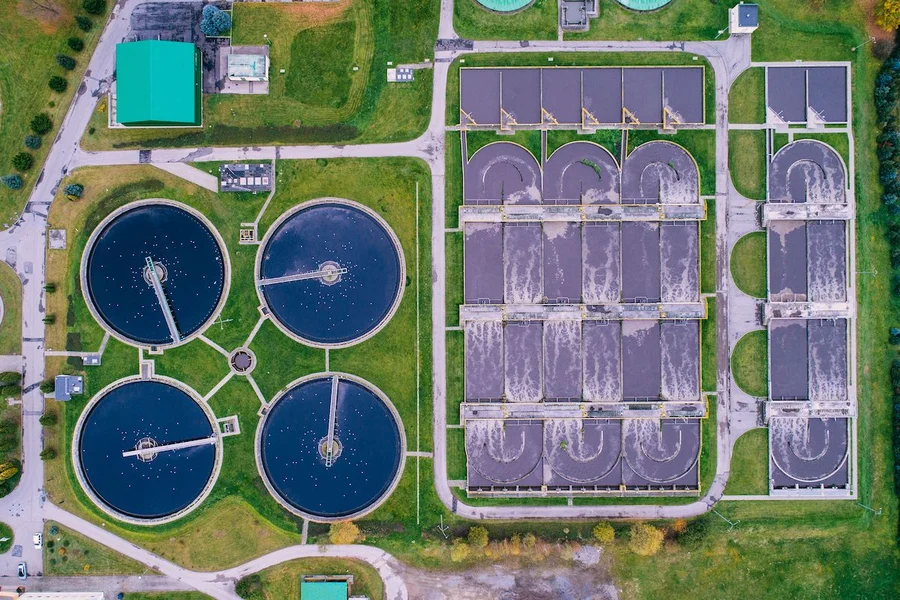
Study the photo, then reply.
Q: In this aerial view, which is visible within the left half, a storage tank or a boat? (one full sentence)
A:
There is a storage tank within the left half.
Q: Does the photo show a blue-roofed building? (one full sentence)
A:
Yes, there's a blue-roofed building here.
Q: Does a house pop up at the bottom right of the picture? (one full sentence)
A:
No, there's no house to be seen at the bottom right of the picture.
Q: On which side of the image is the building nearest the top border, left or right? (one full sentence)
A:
It is on the right.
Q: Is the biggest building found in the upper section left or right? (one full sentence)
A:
The biggest building found in the upper section appears in the left half of the scene.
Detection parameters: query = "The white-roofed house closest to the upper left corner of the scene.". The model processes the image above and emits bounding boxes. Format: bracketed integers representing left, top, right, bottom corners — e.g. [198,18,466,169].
[228,54,270,81]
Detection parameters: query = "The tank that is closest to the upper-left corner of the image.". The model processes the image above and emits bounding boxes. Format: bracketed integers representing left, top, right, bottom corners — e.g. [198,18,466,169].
[81,199,232,349]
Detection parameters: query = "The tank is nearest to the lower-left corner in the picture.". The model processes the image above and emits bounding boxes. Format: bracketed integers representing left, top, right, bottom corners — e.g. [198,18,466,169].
[72,375,223,524]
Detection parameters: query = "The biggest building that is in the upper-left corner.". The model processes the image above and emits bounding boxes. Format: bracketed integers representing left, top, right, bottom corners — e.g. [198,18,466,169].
[116,40,200,126]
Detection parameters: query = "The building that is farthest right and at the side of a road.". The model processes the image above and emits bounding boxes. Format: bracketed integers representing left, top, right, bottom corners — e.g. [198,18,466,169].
[728,3,758,35]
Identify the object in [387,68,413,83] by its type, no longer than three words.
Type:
building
